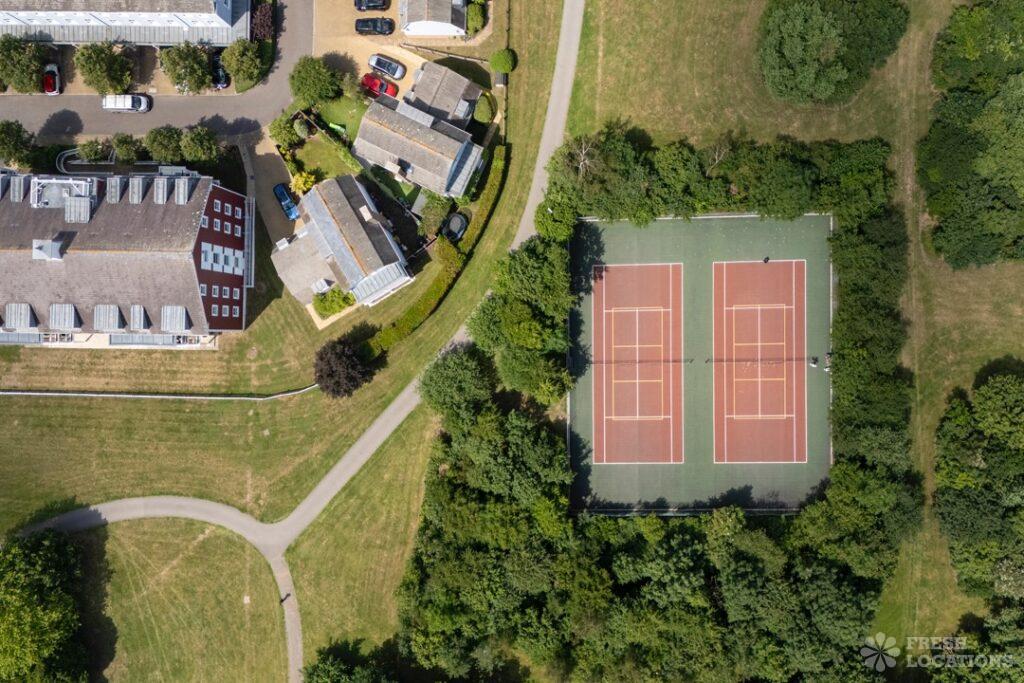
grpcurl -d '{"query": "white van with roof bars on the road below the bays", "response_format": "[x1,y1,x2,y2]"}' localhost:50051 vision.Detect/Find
[101,93,153,114]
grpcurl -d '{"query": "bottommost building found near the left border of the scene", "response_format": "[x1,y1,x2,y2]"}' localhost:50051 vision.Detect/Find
[0,173,254,347]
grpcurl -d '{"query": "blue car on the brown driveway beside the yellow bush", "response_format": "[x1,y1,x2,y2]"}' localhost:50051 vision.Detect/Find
[274,183,301,221]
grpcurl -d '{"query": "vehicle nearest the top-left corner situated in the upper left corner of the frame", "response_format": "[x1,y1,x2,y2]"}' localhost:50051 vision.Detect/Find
[42,65,62,98]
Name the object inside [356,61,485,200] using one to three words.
house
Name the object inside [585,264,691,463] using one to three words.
tennis court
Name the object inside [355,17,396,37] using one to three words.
car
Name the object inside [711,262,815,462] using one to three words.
tennis court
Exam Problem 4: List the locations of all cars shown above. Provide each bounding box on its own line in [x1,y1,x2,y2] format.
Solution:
[360,73,397,100]
[274,183,301,221]
[355,17,396,37]
[42,65,62,98]
[368,55,406,81]
[210,54,230,92]
[354,0,392,14]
